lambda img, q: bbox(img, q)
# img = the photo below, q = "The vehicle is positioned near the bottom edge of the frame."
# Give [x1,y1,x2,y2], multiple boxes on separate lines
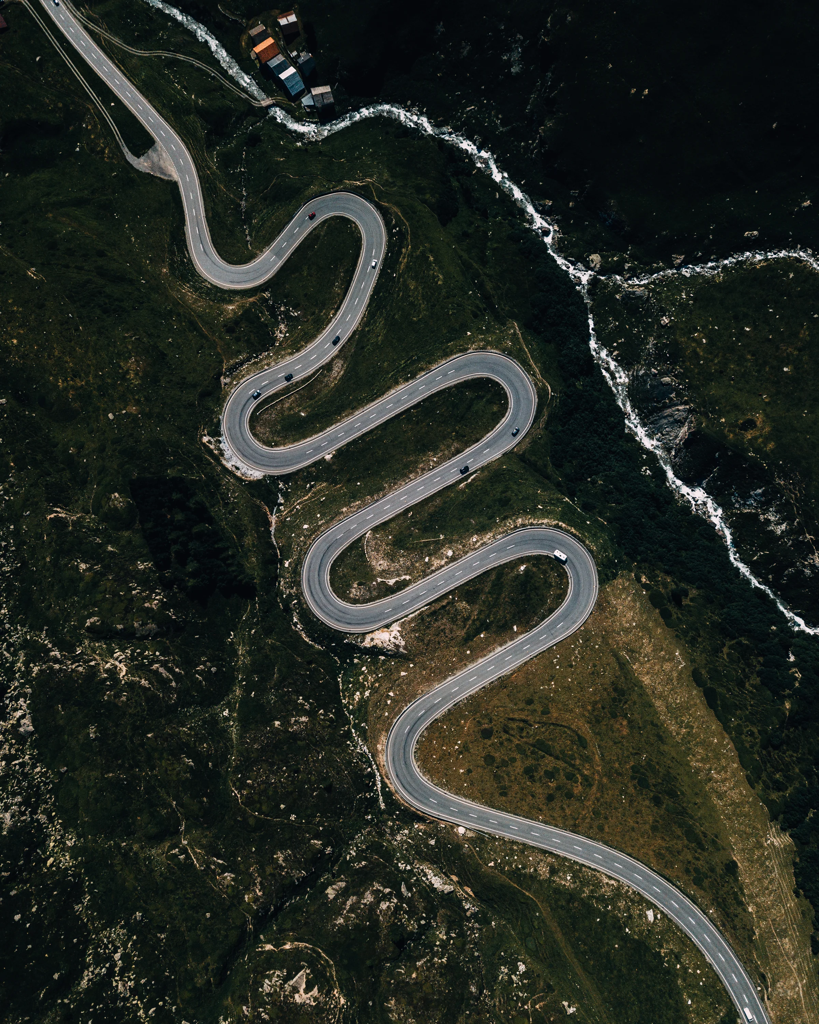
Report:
[741,1004,753,1020]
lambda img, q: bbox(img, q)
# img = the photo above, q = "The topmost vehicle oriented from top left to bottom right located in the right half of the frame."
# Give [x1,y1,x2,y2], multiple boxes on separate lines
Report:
[551,548,568,561]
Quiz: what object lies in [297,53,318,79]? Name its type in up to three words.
house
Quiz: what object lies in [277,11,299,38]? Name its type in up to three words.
barn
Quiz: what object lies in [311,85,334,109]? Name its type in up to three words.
barn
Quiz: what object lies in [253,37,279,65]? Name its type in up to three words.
house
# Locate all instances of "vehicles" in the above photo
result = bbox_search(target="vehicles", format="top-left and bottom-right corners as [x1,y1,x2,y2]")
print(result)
[331,335,341,344]
[551,548,568,561]
[283,373,293,380]
[511,426,520,436]
[371,259,377,268]
[458,465,471,474]
[251,389,262,398]
[741,1004,753,1020]
[307,211,316,219]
